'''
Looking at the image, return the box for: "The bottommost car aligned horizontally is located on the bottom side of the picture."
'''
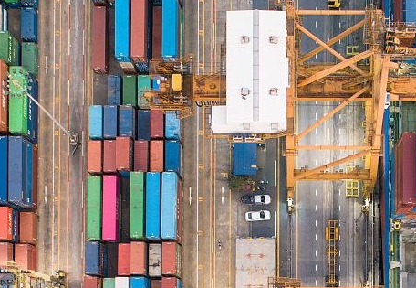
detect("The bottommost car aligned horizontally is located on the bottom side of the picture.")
[246,209,270,221]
